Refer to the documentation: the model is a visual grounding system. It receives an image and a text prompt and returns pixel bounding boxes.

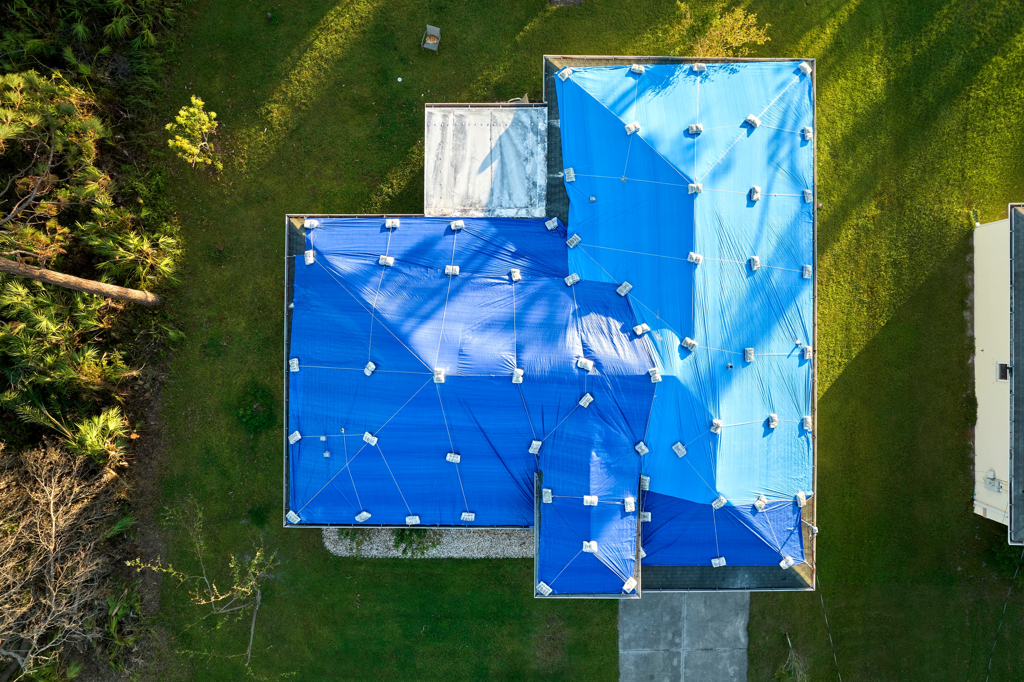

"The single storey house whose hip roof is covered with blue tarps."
[287,56,822,599]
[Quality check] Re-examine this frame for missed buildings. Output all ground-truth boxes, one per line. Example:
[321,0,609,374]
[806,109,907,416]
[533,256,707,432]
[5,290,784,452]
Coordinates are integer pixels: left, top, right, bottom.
[287,56,822,599]
[968,202,1024,546]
